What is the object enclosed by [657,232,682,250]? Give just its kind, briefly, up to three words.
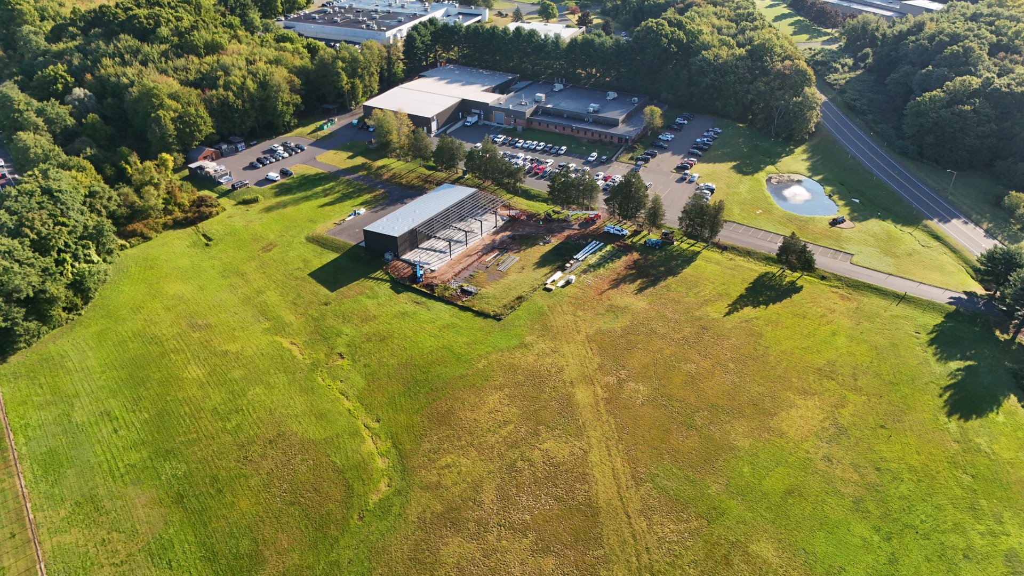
work vehicle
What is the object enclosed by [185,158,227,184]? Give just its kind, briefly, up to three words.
shed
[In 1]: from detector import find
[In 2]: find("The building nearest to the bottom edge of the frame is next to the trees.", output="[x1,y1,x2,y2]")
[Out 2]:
[361,182,510,270]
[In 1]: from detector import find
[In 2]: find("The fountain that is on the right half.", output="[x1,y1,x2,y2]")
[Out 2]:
[782,189,815,204]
